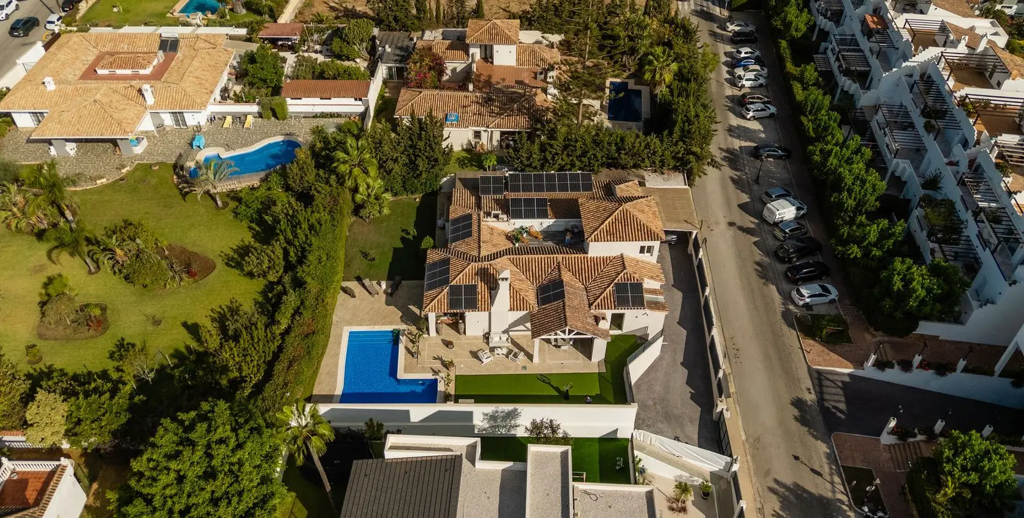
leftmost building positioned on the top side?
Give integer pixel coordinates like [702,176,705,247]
[0,30,235,142]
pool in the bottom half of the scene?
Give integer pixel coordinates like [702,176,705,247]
[337,328,438,401]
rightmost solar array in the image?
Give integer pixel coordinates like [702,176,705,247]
[614,283,645,308]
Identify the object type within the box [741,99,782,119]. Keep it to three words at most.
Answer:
car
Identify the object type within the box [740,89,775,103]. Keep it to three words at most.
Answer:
car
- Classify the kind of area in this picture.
residential area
